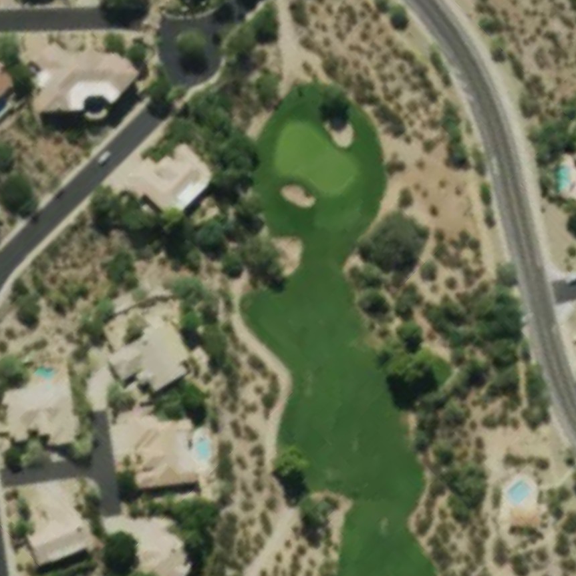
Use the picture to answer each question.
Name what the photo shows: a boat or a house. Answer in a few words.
house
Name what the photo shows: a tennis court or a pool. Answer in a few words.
pool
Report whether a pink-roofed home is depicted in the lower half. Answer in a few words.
No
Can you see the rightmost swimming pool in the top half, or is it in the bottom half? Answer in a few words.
top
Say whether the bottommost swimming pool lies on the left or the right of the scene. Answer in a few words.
right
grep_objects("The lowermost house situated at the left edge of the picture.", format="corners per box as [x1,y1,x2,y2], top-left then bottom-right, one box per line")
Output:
[26,481,95,563]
